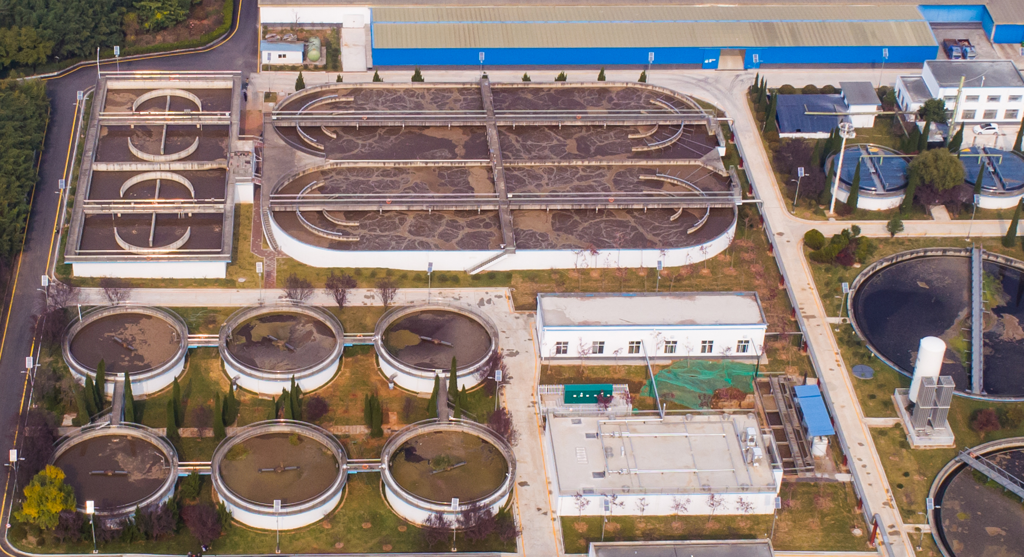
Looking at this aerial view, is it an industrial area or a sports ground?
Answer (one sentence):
What you see here is an industrial area.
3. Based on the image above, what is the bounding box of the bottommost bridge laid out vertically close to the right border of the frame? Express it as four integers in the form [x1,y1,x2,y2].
[959,240,991,399]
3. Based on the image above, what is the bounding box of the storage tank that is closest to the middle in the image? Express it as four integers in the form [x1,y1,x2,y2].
[374,298,499,401]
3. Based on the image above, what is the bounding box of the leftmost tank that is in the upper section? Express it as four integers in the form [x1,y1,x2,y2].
[65,68,243,278]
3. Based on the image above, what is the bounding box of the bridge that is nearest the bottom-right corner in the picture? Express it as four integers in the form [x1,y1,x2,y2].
[957,447,1024,501]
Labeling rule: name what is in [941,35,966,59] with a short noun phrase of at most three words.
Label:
truck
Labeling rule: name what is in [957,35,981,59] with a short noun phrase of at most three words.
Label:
truck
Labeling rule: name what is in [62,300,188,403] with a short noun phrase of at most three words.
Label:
storage tank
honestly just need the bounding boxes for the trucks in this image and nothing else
[957,35,981,59]
[941,35,966,59]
